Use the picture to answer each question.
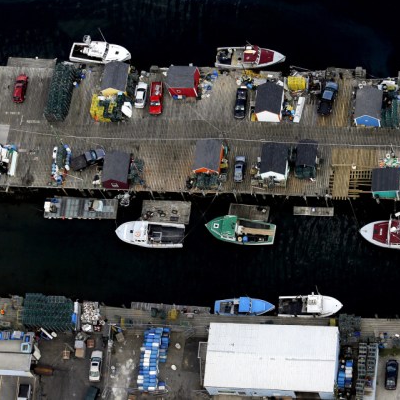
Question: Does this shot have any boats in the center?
Yes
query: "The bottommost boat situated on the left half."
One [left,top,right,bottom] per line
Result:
[115,218,187,248]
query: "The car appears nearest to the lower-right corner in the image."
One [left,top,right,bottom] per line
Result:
[384,359,399,391]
